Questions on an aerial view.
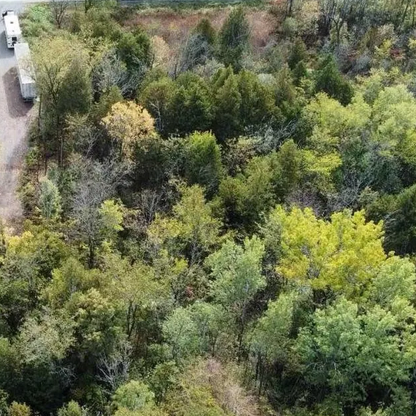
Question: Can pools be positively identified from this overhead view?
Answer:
No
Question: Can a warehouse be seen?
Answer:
No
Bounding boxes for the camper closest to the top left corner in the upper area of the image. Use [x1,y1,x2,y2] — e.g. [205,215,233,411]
[2,16,21,49]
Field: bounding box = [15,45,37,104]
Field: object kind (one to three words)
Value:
trailer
